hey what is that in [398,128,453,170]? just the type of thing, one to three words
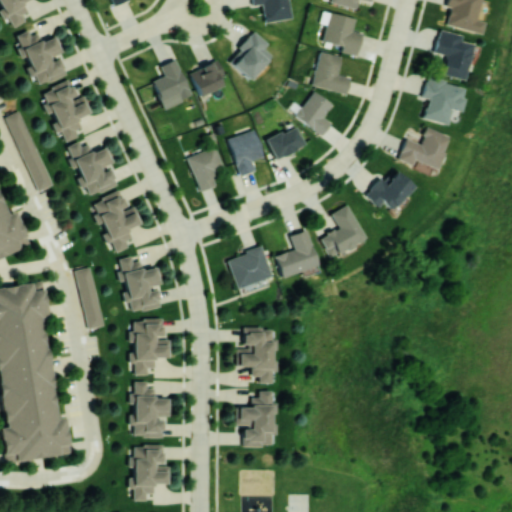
house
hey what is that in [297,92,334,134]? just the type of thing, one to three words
house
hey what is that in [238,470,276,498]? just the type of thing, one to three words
sports court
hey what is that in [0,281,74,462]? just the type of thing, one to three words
building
